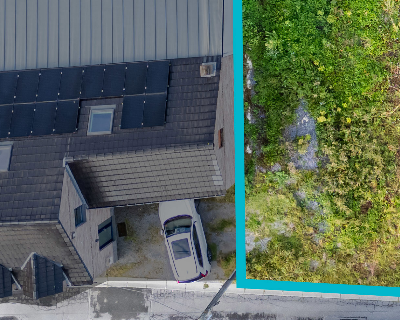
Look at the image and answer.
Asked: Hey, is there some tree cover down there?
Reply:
No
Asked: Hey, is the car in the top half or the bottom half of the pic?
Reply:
bottom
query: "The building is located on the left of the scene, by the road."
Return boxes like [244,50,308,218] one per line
[0,0,242,301]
